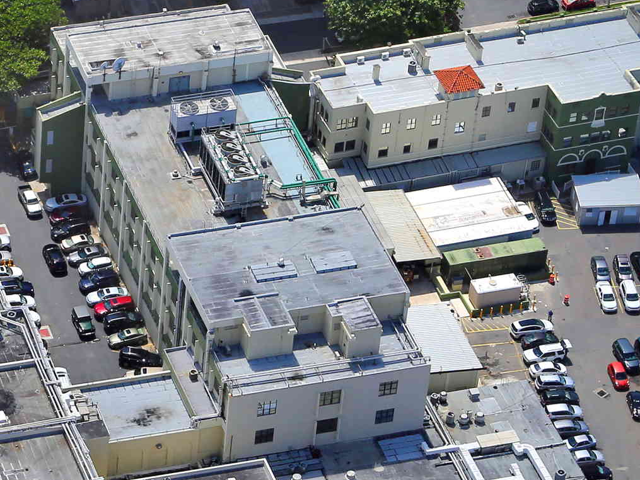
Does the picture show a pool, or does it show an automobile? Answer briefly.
automobile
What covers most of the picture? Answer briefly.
buildings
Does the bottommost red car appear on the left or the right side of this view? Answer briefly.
right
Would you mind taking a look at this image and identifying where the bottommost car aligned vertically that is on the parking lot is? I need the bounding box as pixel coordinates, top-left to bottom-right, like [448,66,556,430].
[625,391,640,424]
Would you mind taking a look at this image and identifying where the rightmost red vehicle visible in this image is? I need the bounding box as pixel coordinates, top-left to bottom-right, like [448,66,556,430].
[607,363,628,391]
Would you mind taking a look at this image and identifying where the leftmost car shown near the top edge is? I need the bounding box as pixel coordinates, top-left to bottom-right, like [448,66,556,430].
[523,0,563,16]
